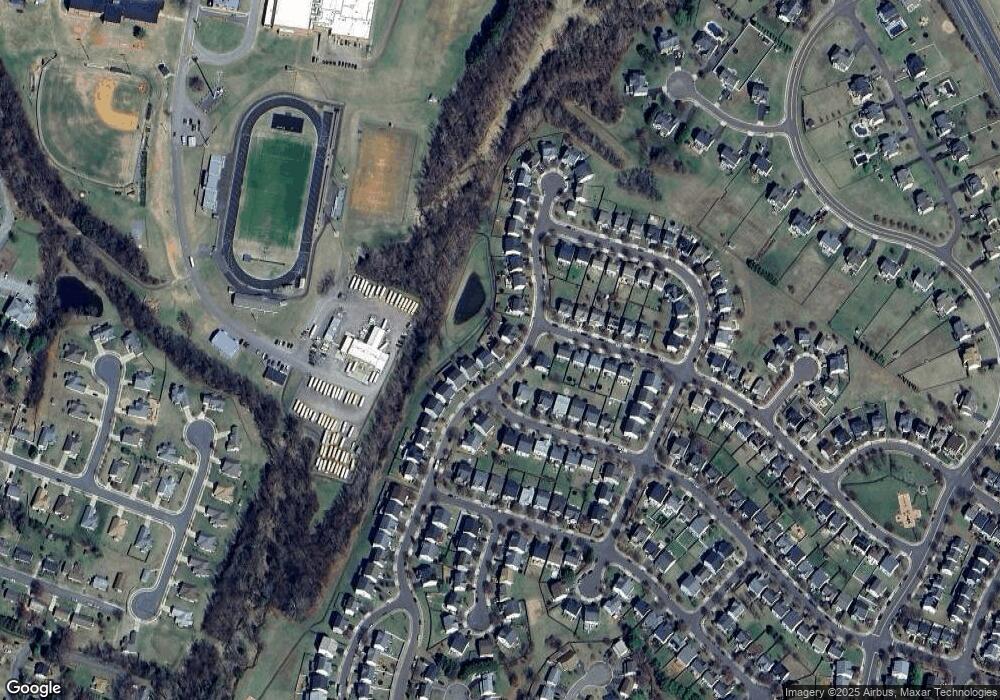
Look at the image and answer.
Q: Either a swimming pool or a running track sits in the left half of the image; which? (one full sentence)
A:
What appears in the left half of the image is a running track.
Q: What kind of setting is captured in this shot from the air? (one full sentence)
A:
This image shows a residential area.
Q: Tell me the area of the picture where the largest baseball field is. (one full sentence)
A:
The largest baseball field is located in the top left region of the scene.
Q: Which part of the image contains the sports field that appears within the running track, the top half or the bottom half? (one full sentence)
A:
The top half of the photo is where the sports field that appears within the running track is.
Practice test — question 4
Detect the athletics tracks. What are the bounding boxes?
[218,90,333,296]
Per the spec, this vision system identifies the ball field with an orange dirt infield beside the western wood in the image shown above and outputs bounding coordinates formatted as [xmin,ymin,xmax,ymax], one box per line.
[37,62,150,188]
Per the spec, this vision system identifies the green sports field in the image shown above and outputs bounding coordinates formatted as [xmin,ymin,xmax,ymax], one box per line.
[238,135,314,248]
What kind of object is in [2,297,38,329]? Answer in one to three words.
building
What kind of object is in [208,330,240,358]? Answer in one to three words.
shed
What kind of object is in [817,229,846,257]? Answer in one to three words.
house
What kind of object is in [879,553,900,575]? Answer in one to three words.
house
